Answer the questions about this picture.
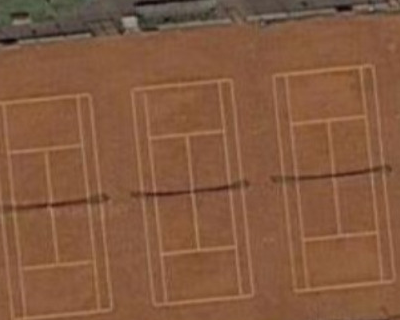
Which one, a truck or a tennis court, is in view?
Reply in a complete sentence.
This aerial view contains a tennis court.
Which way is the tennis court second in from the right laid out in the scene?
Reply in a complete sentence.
The tennis court second in from the right runs up and down in the image.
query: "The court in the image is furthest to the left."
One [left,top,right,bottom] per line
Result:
[0,87,118,320]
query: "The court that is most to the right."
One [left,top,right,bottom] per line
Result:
[268,58,400,297]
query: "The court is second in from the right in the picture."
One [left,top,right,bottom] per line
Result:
[126,73,259,311]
